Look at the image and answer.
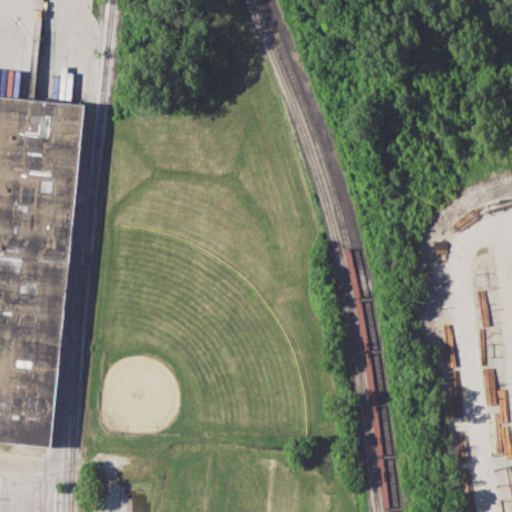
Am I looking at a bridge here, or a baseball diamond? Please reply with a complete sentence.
This aerial view contains a baseball diamond.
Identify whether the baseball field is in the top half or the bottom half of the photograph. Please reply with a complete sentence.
The baseball field is in the bottom half of the image.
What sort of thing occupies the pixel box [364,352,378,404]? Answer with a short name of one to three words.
rail car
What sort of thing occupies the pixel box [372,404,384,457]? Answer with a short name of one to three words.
rail car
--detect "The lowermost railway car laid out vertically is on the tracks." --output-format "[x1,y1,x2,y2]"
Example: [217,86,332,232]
[378,458,390,510]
